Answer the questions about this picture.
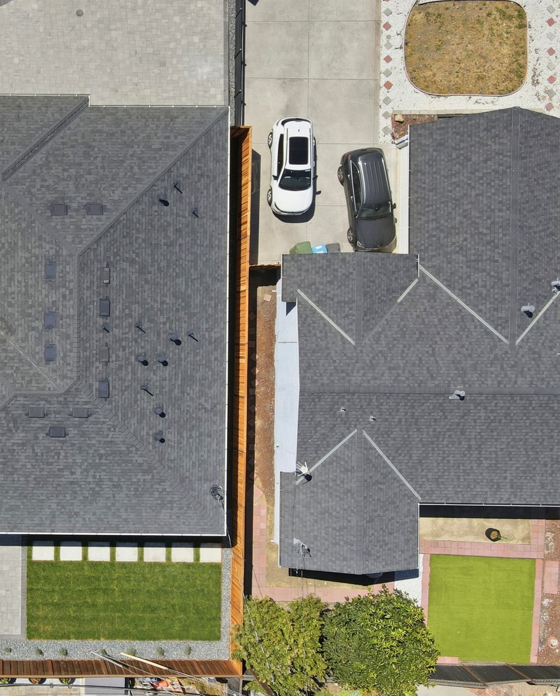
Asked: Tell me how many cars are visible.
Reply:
2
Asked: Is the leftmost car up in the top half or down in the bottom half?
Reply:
top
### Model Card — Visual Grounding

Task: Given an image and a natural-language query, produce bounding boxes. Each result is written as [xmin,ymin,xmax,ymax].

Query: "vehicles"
[267,113,323,217]
[341,143,404,252]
